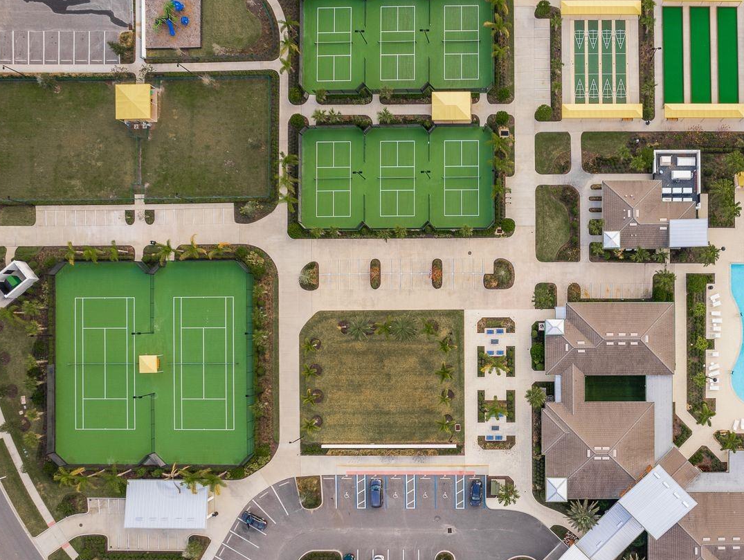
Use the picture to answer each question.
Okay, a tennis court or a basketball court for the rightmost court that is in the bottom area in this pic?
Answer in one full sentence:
It looks like the rightmost court that is in the bottom area is a tennis court.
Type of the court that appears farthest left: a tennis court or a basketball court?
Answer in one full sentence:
I'd identify the court that appears farthest left as a tennis court.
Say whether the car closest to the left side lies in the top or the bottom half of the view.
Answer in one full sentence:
The car closest to the left side sits in the bottom half of the picture.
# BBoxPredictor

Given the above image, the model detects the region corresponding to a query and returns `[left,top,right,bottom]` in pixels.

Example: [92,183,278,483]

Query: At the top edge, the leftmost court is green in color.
[303,0,366,90]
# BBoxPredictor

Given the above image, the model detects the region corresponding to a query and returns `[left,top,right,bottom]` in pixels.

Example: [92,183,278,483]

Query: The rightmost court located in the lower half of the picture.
[150,261,253,465]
